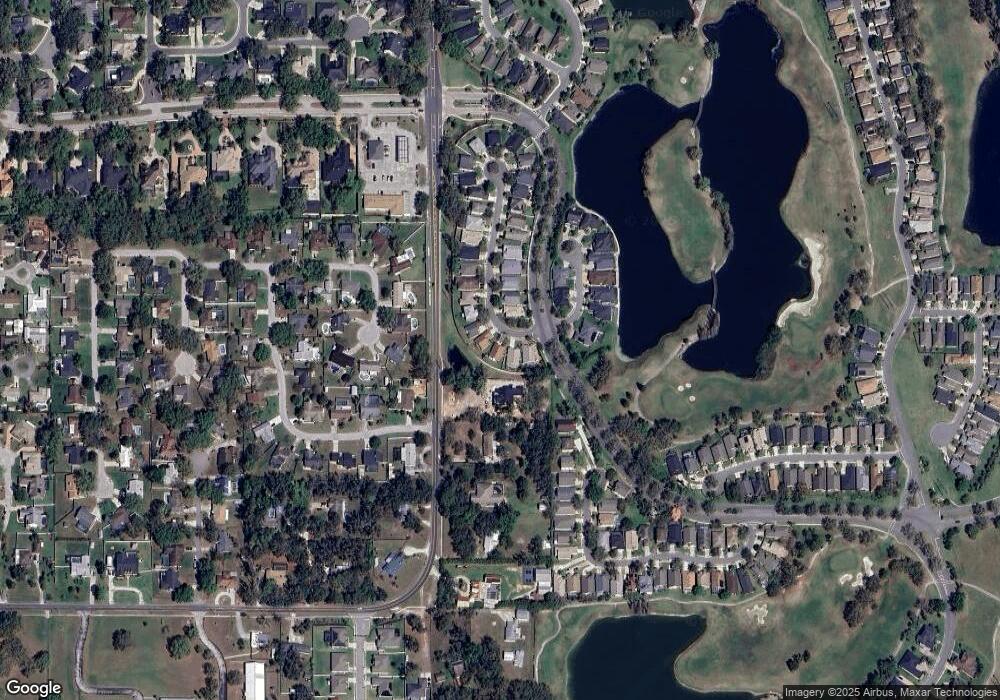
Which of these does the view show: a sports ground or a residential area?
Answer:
residential area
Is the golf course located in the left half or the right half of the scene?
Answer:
right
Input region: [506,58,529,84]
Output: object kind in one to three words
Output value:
house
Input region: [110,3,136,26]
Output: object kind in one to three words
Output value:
house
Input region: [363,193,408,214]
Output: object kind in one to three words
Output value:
building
